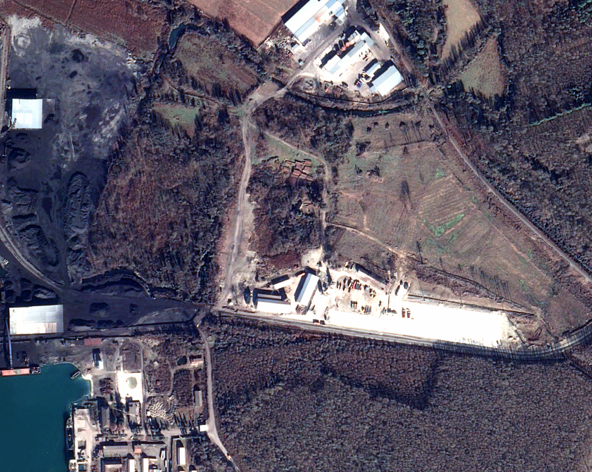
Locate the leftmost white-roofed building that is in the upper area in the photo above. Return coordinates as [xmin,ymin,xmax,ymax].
[10,98,42,128]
